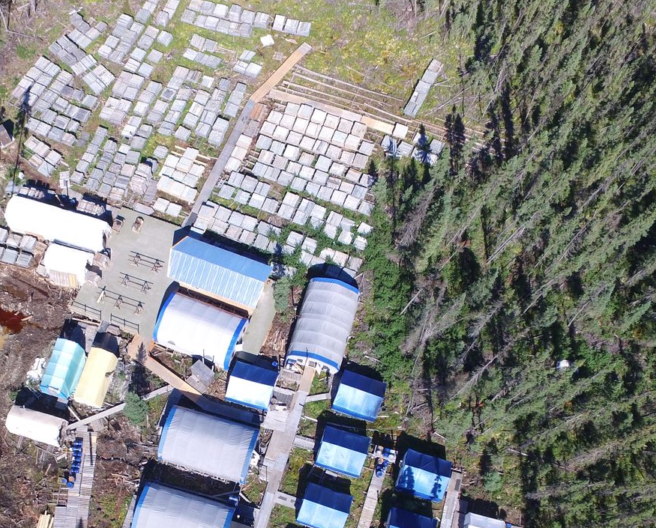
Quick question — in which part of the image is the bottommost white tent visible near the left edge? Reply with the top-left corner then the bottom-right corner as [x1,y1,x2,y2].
[5,405,70,448]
